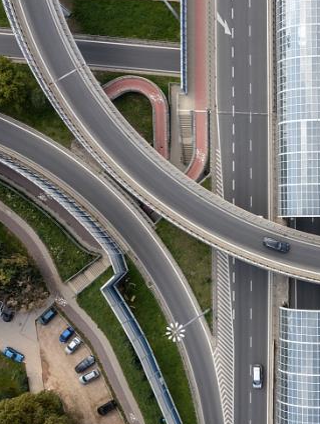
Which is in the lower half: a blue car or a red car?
blue car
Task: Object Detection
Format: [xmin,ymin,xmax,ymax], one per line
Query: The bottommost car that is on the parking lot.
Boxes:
[96,399,118,417]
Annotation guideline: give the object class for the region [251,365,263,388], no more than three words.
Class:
vehicle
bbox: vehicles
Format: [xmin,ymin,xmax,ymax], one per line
[65,336,85,355]
[37,307,59,325]
[57,325,77,343]
[79,368,101,384]
[1,306,16,324]
[4,347,26,362]
[96,399,118,417]
[74,354,97,373]
[0,298,8,317]
[251,365,263,388]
